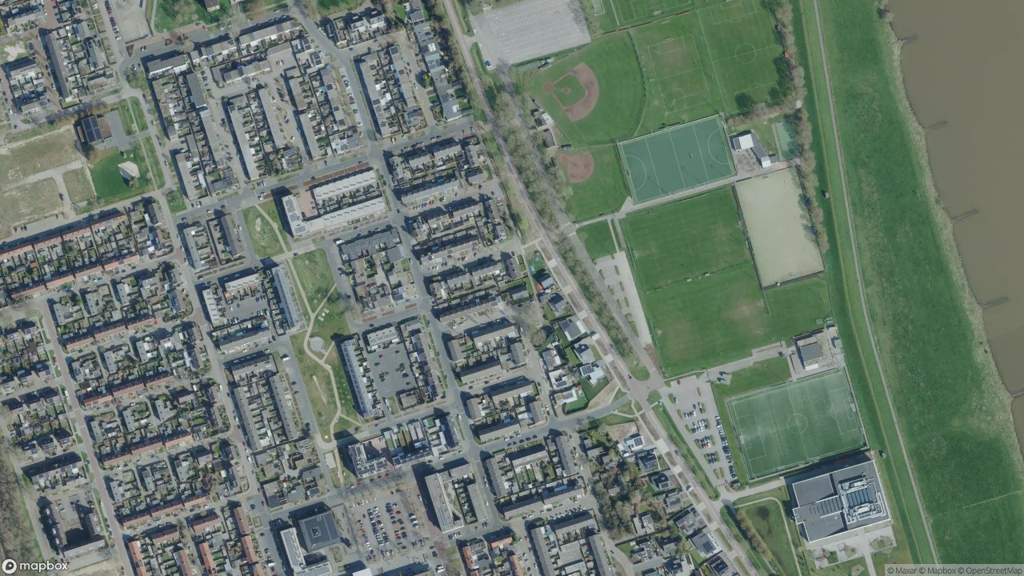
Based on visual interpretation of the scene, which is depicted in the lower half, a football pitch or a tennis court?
football pitch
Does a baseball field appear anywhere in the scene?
Yes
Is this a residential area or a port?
residential area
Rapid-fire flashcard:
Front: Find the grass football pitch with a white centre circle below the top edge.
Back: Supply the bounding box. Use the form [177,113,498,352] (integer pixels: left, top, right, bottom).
[695,0,800,112]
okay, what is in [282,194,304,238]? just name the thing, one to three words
building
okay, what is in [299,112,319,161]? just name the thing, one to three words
house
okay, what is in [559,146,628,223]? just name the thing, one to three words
baseball field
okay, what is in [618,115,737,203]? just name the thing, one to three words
sports field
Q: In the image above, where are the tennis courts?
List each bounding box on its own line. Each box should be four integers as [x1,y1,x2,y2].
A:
[773,121,797,161]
